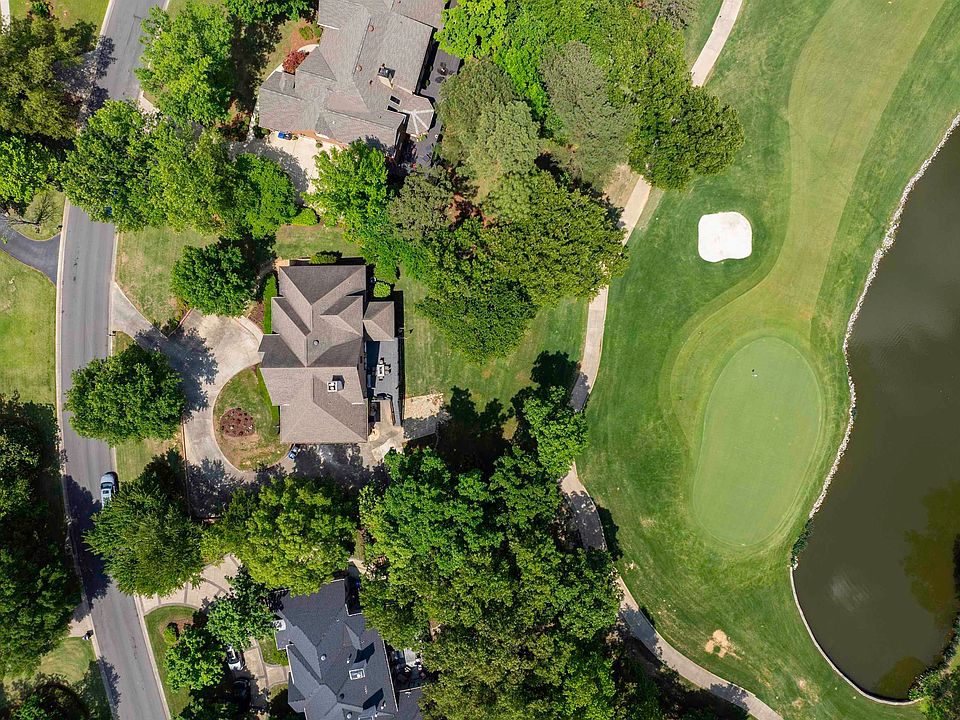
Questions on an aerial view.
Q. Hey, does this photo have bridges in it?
No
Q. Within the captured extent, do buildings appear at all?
Yes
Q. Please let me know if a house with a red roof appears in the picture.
No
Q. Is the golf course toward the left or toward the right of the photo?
right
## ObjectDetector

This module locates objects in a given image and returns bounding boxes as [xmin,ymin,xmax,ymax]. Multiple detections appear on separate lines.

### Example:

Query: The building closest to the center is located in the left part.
[259,264,400,442]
